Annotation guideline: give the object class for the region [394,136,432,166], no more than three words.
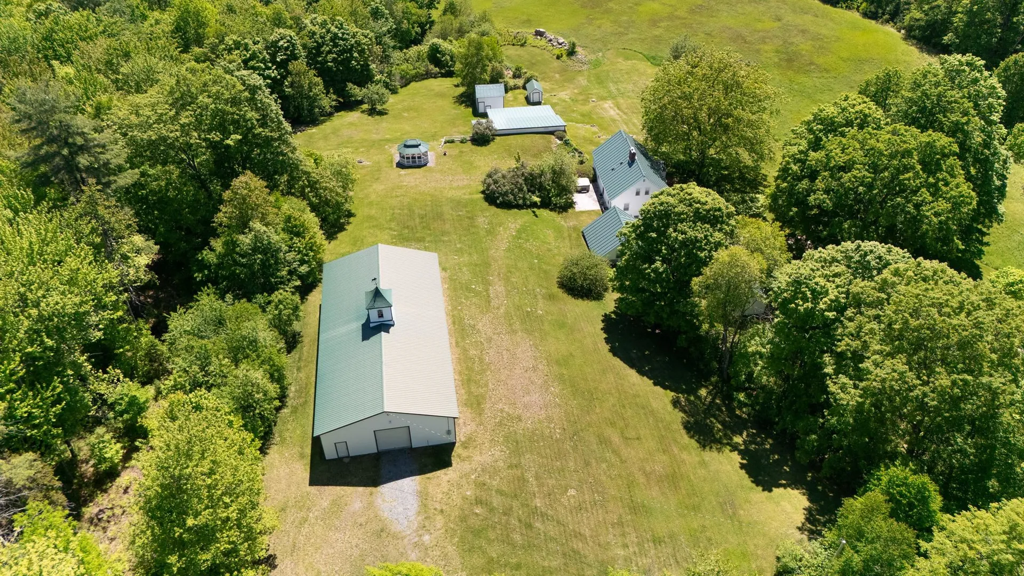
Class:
gazebo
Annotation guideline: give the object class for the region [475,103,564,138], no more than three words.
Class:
shed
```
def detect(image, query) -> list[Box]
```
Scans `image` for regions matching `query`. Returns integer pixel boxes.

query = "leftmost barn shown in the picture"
[315,243,458,460]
